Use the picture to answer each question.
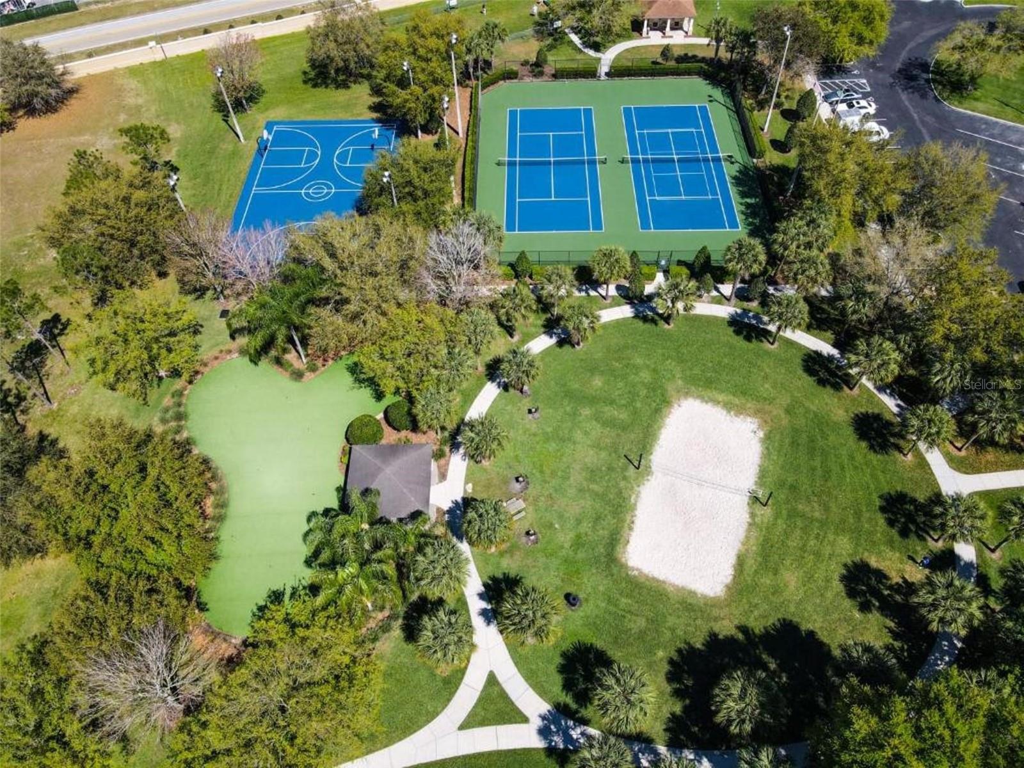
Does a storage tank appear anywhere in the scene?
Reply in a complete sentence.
No, no storage tank can be seen from above.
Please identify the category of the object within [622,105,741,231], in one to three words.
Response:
tennis court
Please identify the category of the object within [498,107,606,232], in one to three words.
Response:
tennis court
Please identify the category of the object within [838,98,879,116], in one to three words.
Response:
car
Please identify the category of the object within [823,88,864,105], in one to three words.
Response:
car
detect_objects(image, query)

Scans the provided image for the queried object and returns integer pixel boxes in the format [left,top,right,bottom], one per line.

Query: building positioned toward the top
[637,0,702,39]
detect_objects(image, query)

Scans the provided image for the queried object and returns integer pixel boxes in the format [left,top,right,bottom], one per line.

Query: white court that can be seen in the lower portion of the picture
[625,398,764,597]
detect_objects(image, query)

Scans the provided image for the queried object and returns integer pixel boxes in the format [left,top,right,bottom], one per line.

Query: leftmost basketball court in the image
[211,119,399,276]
